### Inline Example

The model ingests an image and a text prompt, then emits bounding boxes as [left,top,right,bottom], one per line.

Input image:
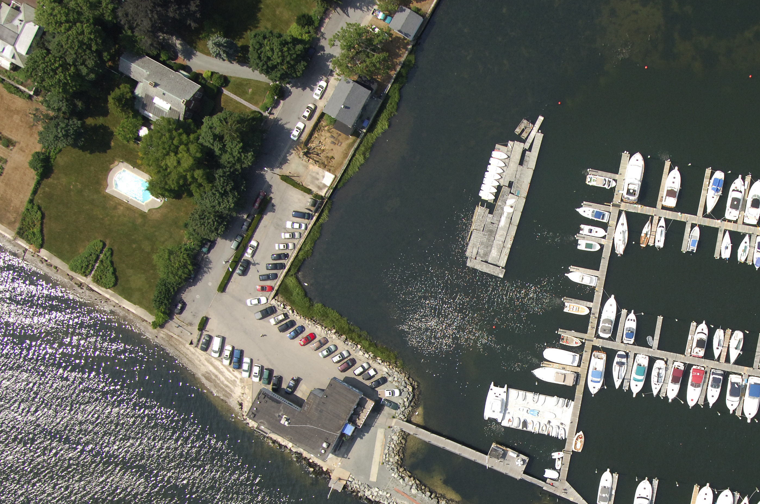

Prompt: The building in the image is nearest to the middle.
[323,79,382,138]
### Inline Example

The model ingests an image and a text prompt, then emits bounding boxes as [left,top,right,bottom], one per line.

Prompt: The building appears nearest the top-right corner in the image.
[389,7,423,40]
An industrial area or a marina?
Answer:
marina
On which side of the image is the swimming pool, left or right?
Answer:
left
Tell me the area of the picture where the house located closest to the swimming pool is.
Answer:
top left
